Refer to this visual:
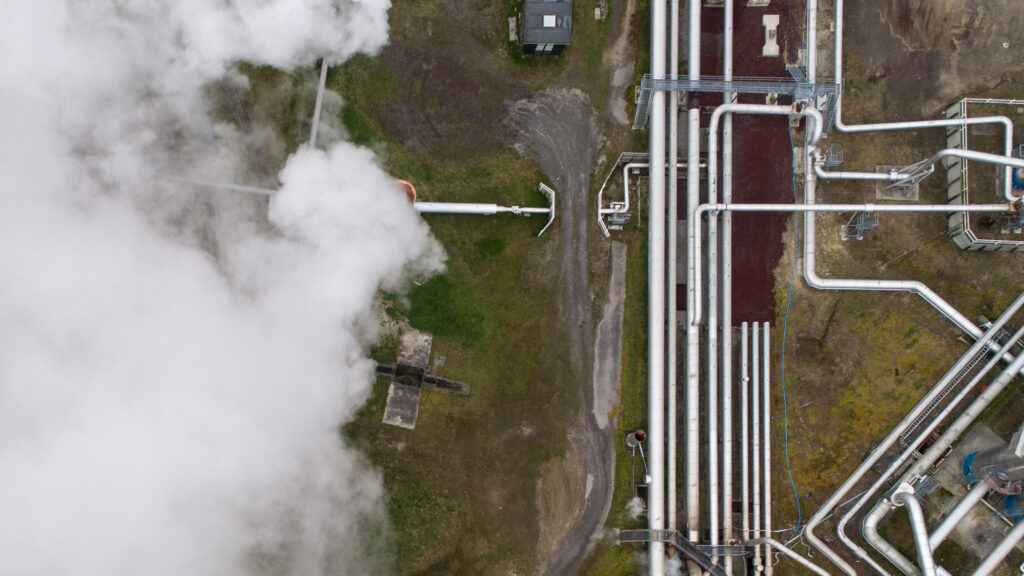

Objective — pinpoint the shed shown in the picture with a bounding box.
[524,0,572,54]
